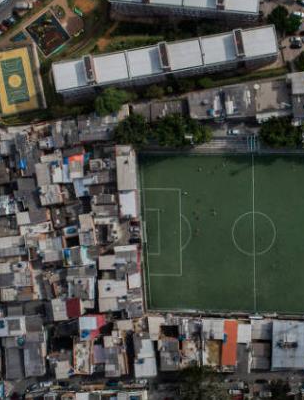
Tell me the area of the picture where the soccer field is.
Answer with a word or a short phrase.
right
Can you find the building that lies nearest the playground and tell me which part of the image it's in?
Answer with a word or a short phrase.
top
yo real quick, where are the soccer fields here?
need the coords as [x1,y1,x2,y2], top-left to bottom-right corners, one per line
[139,150,304,316]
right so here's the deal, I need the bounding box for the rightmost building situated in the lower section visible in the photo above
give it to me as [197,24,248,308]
[273,319,304,371]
